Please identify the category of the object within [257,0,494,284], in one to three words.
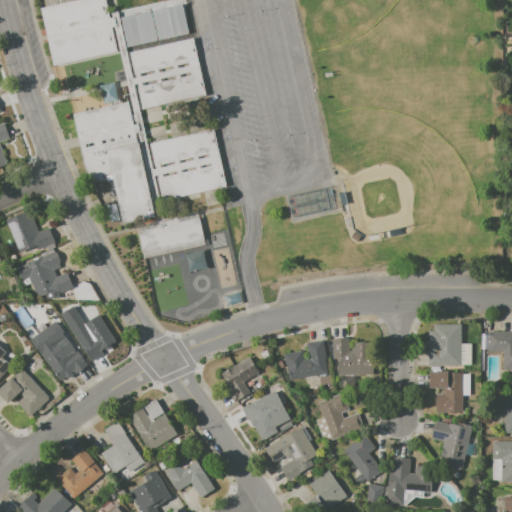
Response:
sports field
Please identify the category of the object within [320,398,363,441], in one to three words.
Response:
house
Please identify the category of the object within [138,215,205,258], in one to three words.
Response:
building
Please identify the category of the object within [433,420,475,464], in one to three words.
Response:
house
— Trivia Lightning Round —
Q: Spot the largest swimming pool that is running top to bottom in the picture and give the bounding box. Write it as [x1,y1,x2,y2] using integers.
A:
[488,356,500,381]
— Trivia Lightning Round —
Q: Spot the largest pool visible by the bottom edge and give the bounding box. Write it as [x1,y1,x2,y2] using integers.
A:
[441,484,459,504]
